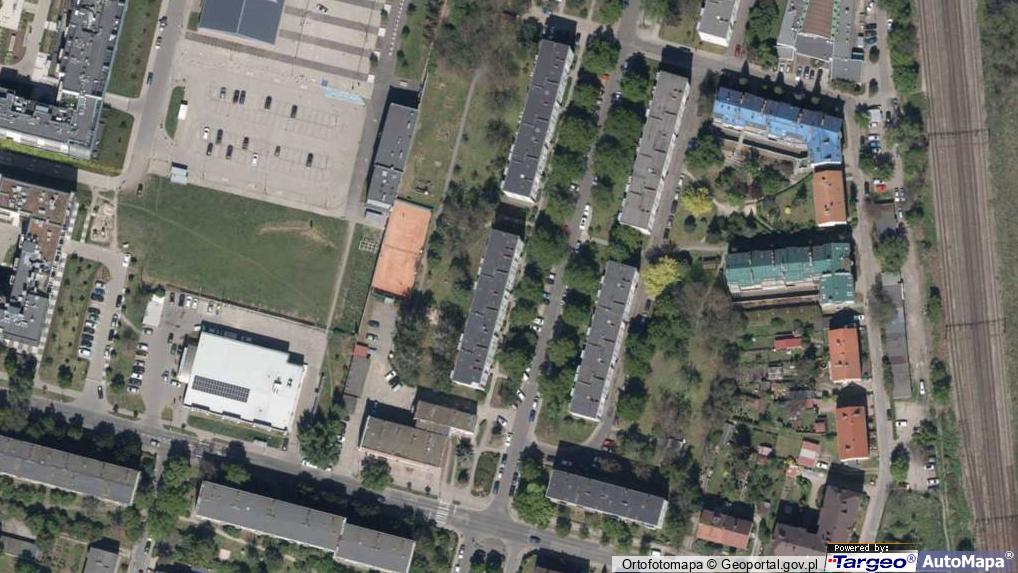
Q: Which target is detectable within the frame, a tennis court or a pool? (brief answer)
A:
tennis court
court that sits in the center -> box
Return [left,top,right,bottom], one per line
[373,199,431,296]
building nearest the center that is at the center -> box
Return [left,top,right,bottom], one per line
[451,228,526,390]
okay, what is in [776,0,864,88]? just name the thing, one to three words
building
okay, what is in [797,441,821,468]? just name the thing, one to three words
shed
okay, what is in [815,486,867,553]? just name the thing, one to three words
house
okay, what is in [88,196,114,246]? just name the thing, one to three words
playground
